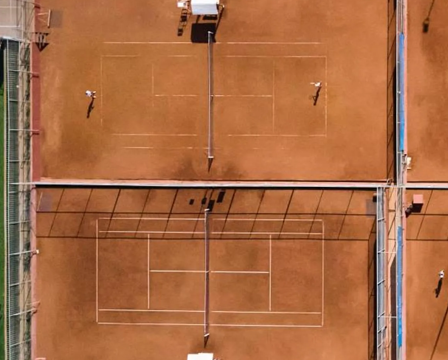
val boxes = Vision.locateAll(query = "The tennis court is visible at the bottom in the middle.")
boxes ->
[36,185,385,360]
